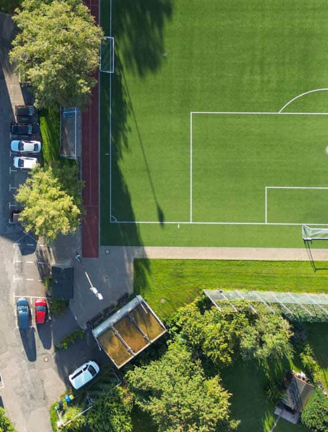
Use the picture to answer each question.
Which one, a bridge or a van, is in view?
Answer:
van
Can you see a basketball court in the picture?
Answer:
No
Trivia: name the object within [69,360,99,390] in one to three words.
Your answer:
van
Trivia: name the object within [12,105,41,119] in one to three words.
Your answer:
car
